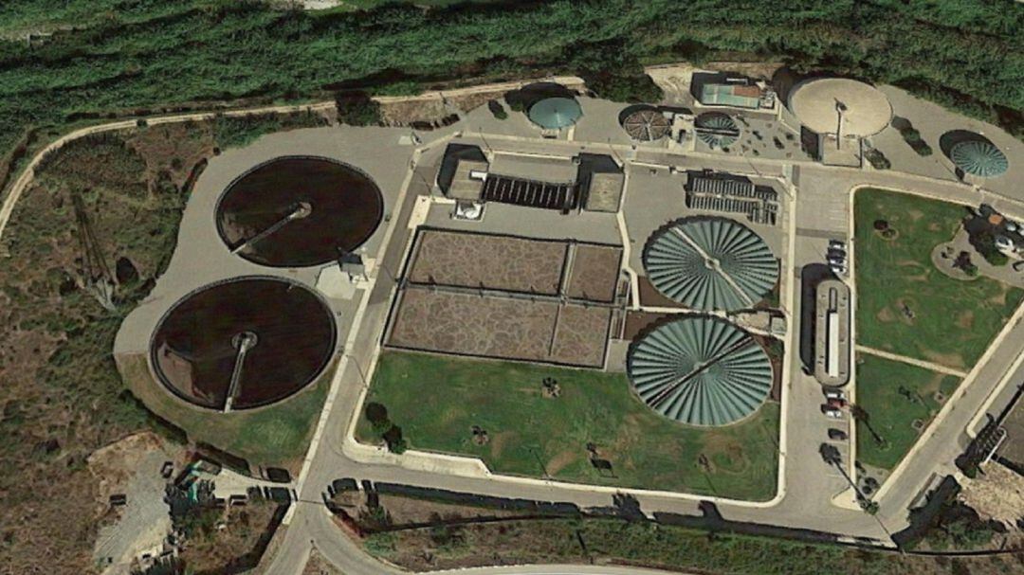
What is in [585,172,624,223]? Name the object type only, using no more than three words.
building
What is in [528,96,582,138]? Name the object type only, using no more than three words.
storage tank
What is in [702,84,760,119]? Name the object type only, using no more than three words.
building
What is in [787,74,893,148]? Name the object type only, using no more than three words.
storage tank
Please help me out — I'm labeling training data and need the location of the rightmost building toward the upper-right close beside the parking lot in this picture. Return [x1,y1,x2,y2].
[820,135,862,177]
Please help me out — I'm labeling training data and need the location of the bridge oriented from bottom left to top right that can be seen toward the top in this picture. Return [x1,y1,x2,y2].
[231,198,307,253]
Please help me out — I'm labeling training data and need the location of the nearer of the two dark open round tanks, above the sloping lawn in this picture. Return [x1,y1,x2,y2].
[149,273,338,415]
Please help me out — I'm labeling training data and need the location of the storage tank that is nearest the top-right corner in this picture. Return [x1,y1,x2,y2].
[949,141,1009,186]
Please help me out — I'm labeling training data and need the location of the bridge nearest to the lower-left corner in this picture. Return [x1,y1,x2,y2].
[224,330,248,414]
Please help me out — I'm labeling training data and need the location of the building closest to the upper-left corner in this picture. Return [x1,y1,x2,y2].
[342,262,365,286]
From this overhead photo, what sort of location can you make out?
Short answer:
industrial area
